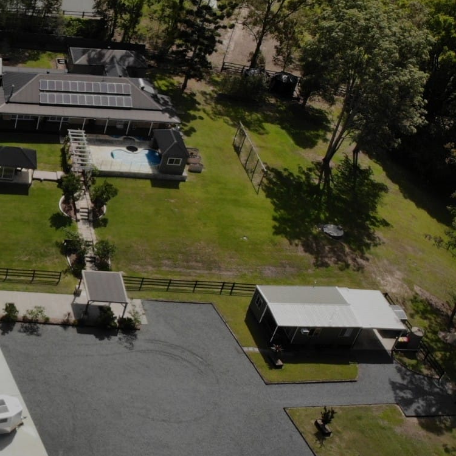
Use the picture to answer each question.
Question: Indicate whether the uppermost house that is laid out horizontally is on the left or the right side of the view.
left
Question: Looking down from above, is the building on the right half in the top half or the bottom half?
bottom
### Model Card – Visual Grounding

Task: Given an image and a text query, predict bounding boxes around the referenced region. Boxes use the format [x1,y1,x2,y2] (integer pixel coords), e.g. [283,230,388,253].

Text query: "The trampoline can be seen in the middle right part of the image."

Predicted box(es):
[321,223,347,239]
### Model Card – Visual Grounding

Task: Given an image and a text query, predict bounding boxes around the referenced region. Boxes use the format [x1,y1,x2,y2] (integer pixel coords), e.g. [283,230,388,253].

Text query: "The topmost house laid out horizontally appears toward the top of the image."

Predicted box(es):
[0,47,180,133]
